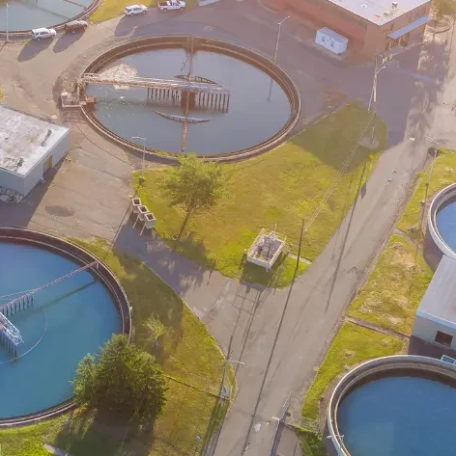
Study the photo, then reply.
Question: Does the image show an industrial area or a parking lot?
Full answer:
This image shows an industrial area.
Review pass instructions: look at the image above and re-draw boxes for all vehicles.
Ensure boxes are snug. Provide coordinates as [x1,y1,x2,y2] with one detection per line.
[157,0,186,10]
[31,26,57,41]
[64,17,91,32]
[123,2,150,16]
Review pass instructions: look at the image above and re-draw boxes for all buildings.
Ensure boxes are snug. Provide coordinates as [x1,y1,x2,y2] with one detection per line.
[411,255,456,349]
[0,104,71,194]
[284,0,436,60]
